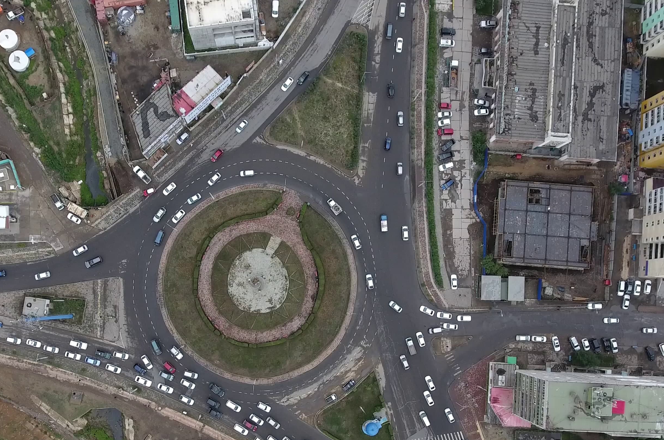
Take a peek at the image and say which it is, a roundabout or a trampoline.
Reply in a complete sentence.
Looking from above, you can make out a roundabout.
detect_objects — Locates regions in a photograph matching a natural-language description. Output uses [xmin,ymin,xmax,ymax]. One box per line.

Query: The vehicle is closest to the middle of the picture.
[327,198,343,216]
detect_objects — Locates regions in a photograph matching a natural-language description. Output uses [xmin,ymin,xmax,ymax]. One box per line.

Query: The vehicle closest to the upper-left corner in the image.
[6,7,26,23]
